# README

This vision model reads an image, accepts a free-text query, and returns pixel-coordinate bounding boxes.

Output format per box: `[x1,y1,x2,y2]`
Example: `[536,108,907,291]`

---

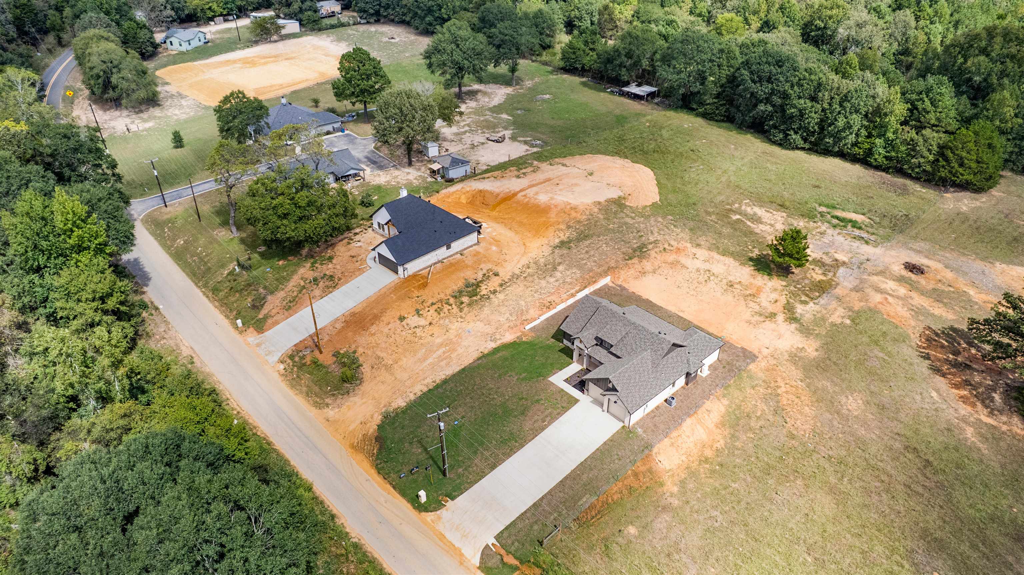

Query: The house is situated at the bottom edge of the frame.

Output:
[421,396,624,566]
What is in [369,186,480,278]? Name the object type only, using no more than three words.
house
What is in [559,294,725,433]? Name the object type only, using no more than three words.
house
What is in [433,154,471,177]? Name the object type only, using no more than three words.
shed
